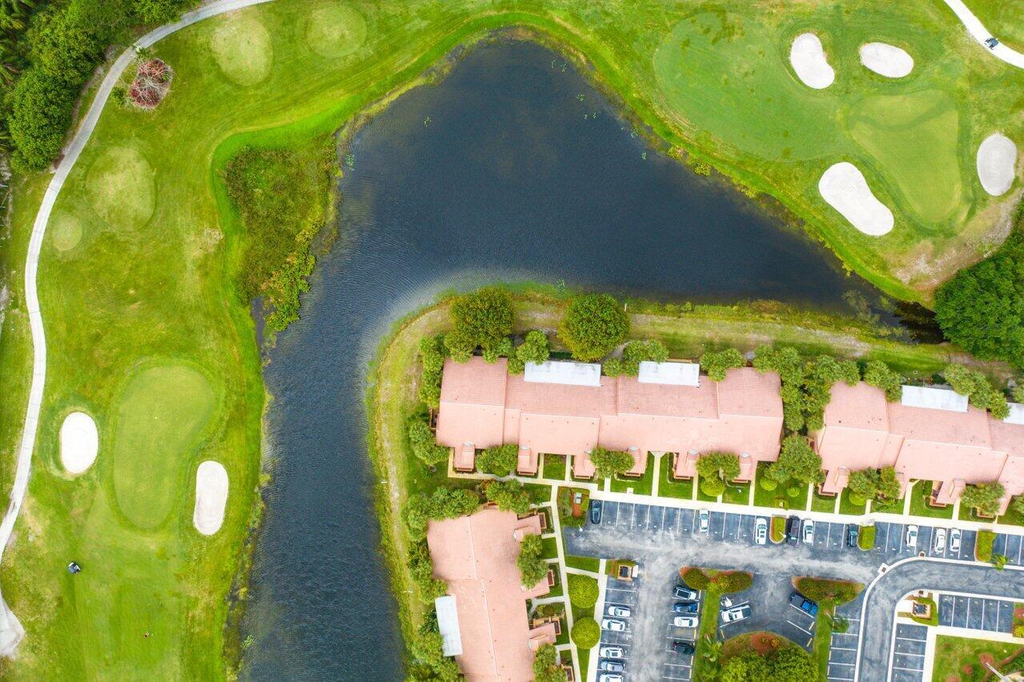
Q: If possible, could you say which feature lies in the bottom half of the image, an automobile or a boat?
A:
automobile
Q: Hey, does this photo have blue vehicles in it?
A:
Yes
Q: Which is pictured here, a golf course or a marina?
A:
golf course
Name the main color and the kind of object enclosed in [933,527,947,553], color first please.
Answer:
white car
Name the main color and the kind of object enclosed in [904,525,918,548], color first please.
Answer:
white car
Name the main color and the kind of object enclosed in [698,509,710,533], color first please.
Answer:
white vehicle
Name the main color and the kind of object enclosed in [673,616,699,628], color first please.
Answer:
white vehicle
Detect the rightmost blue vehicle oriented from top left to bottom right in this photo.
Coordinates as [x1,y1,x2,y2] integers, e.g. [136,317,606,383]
[789,592,819,616]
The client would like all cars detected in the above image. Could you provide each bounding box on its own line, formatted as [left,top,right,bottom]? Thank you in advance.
[846,524,859,548]
[599,673,624,682]
[720,605,753,622]
[673,585,699,601]
[599,646,624,659]
[904,525,918,548]
[671,642,696,655]
[933,527,947,553]
[754,518,767,545]
[698,509,710,533]
[608,605,631,618]
[789,592,819,616]
[673,601,698,614]
[601,618,626,631]
[600,660,625,673]
[673,616,699,628]
[948,528,962,553]
[801,519,814,545]
[786,517,800,546]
